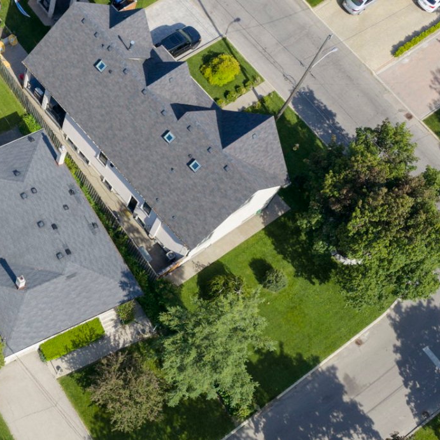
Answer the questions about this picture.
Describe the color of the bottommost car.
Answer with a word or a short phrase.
black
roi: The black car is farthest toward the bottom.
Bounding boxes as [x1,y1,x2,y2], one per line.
[157,23,205,55]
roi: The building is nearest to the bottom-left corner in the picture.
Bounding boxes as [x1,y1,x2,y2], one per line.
[0,129,144,364]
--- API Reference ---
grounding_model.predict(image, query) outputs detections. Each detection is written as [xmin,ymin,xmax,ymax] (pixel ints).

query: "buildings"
[21,1,295,262]
[0,129,144,364]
